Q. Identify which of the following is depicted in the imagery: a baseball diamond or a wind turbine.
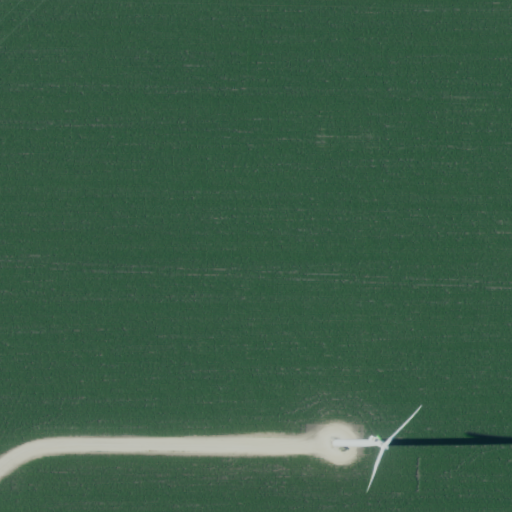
wind turbine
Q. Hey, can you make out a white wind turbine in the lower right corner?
Yes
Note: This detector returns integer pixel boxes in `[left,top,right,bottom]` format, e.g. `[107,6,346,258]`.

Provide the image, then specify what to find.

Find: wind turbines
[331,406,420,492]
